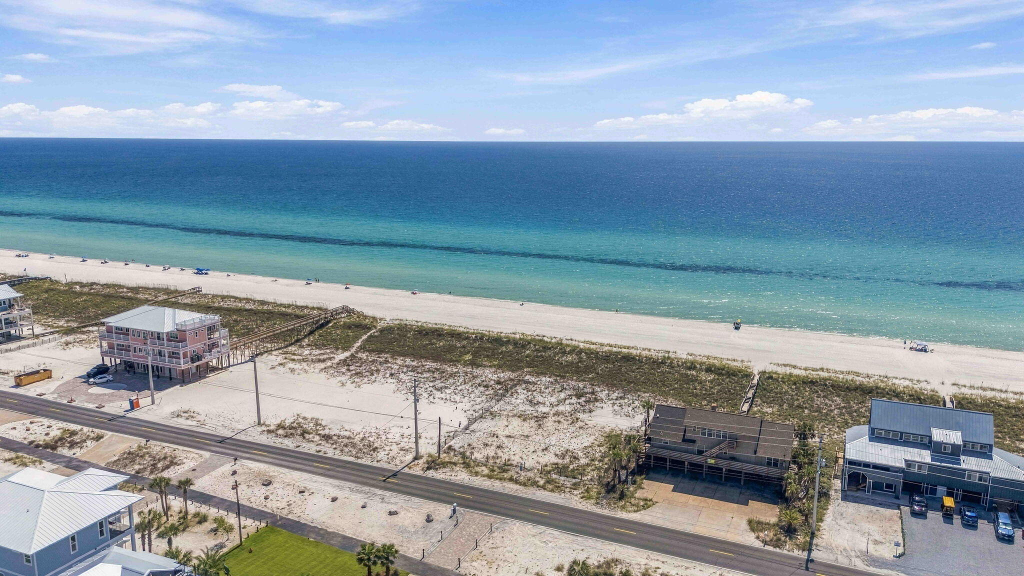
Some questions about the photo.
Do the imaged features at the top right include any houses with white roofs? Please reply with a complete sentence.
No, the scene shows no house with a white roof at the top right.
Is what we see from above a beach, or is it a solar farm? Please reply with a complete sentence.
The picture captures a beach.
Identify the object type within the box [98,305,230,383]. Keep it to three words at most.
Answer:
house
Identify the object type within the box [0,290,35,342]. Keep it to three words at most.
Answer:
house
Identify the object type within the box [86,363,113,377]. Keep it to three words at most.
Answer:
car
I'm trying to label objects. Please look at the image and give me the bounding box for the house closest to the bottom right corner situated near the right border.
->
[841,397,1024,510]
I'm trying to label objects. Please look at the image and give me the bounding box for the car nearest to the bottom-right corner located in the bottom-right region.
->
[984,510,1016,541]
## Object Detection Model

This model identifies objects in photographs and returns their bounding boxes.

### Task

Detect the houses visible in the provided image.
[0,466,144,576]
[635,401,796,491]
[841,397,1024,510]
[0,290,35,342]
[98,305,230,383]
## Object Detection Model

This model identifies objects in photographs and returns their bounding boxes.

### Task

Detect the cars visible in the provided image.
[86,363,113,377]
[88,374,115,384]
[734,322,743,331]
[956,498,980,525]
[908,488,930,515]
[984,510,1016,541]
